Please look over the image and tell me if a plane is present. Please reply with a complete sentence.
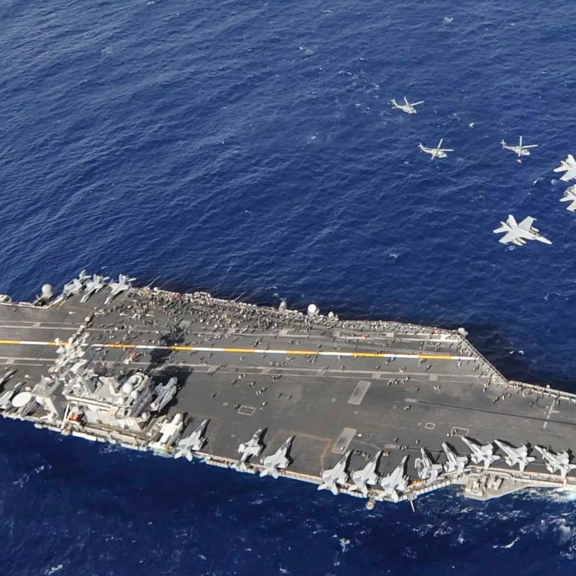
Yes, there's a plane down there.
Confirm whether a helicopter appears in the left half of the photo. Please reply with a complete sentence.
No, I see no helicopter in the left half of the photo.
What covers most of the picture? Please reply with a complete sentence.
For the most part, this view shows water.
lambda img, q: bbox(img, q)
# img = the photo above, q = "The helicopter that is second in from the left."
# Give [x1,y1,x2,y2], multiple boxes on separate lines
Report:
[421,136,456,161]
